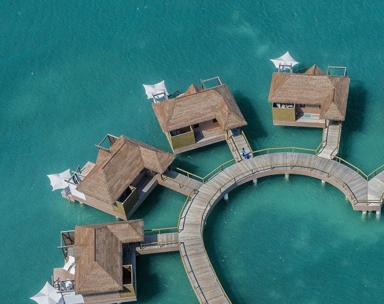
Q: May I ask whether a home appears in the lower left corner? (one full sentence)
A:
Yes, a home appears in the lower left corner.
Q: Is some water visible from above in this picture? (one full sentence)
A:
Yes, water shows up in the scene.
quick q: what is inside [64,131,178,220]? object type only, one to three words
house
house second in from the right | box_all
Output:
[154,75,243,154]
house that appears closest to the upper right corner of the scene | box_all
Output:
[267,60,348,134]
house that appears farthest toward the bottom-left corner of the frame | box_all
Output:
[52,217,146,304]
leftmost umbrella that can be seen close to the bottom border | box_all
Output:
[30,281,64,304]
